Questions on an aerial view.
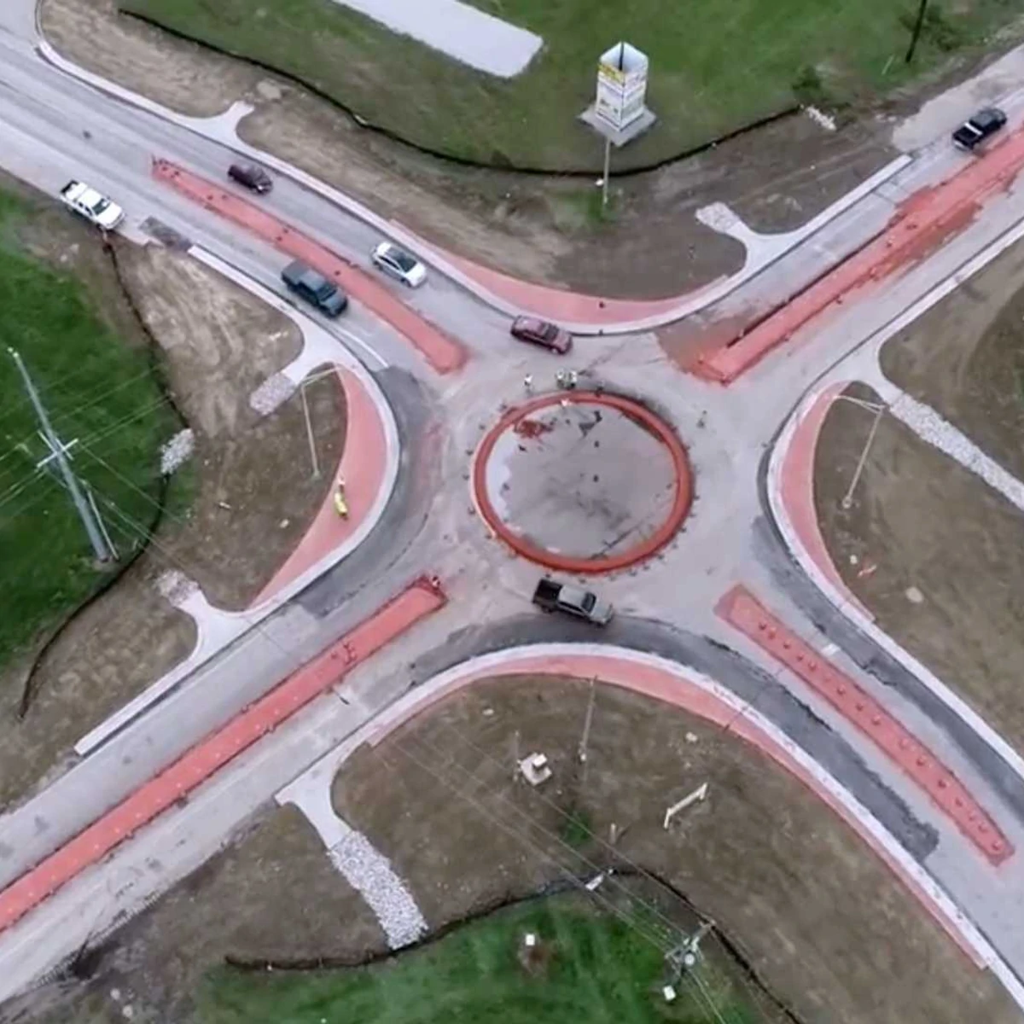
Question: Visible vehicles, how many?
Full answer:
The picture shows 7 vehicles.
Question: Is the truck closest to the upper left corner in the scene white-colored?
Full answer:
Yes, white is the color of the truck closest to the upper left corner.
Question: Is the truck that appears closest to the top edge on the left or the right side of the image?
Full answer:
You can find the truck that appears closest to the top edge on the right side of the picture.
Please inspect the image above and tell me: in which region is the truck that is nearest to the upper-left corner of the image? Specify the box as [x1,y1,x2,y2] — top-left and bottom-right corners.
[58,174,130,230]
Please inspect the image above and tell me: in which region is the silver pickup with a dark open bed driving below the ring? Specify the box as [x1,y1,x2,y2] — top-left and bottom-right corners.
[528,574,618,629]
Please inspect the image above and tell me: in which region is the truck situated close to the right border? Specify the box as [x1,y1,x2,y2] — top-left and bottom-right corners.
[952,108,1013,152]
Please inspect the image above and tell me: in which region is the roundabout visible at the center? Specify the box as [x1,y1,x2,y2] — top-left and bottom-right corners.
[393,335,771,640]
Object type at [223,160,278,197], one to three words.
car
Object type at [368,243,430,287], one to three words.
car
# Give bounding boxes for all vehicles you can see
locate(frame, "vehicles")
[223,160,278,197]
[509,316,574,358]
[368,243,430,287]
[279,256,351,316]
[58,174,130,230]
[528,574,618,629]
[952,108,1013,152]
